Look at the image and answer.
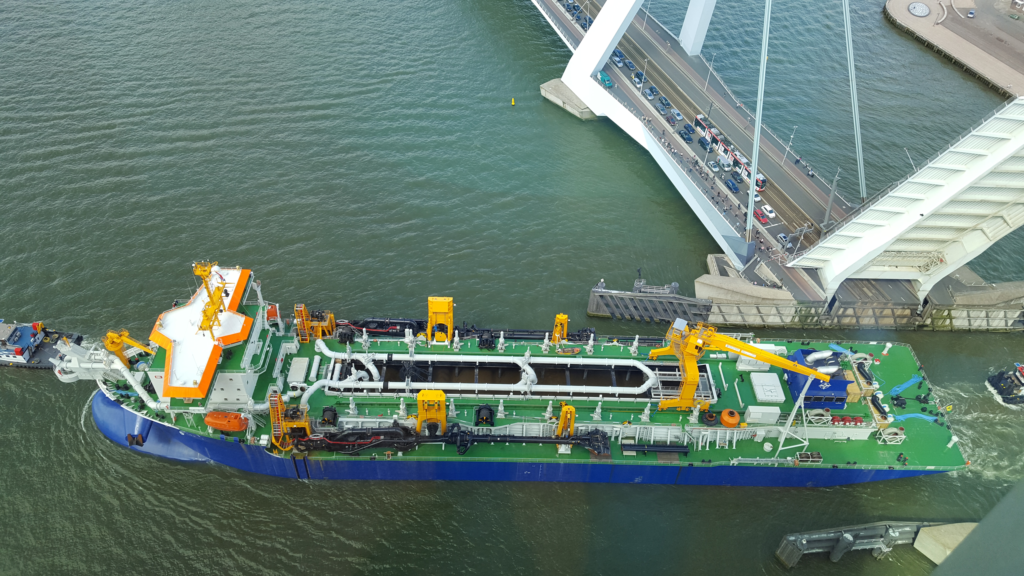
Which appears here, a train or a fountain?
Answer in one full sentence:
The image shows a train.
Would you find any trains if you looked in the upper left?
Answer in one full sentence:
No, I can find no train in the upper left.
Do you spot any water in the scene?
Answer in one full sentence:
Yes, the picture does contain water.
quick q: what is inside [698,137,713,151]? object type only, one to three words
car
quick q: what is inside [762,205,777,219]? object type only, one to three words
car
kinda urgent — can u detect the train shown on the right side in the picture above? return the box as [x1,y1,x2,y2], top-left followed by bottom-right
[698,116,770,192]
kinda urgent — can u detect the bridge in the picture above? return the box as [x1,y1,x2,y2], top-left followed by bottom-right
[519,0,860,269]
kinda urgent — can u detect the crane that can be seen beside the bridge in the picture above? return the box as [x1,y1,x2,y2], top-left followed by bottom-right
[639,307,830,417]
